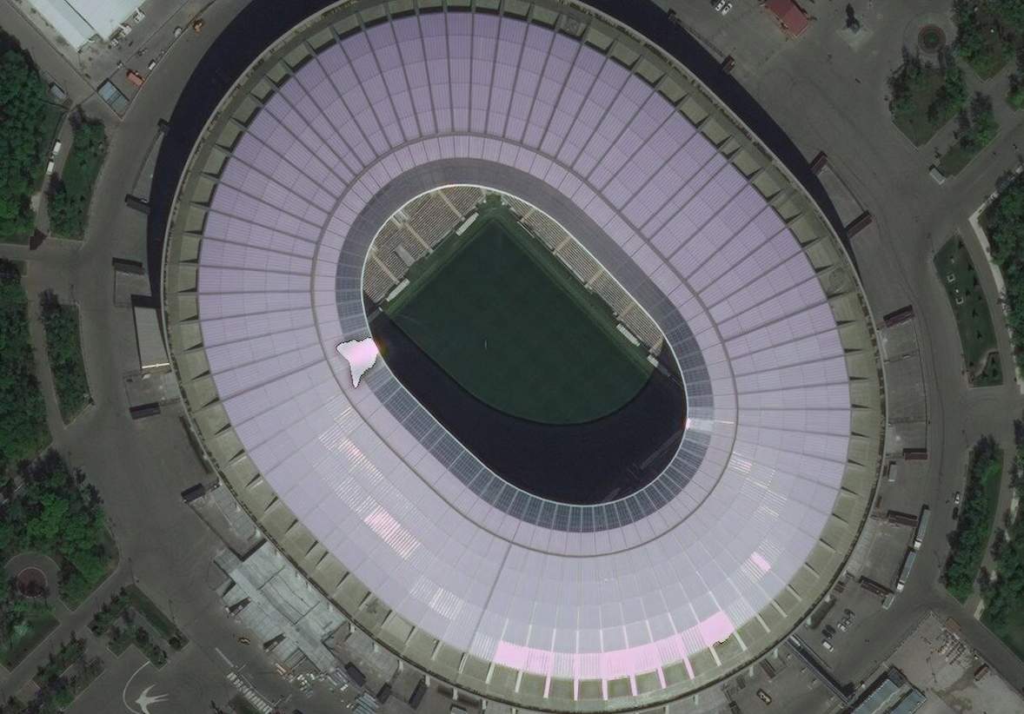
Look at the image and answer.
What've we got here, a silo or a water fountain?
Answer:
water fountain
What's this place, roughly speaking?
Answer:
sports ground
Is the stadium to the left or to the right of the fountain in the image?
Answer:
on the left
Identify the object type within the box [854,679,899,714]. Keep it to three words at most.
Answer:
building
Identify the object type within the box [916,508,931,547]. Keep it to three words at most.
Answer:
vehicle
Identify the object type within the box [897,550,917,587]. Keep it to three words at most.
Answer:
vehicle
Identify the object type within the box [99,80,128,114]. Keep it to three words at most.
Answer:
shed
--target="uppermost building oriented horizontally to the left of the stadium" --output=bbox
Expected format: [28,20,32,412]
[65,0,150,42]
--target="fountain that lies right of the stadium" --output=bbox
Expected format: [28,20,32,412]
[918,25,946,53]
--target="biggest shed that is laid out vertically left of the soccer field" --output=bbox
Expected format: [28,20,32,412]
[135,307,169,369]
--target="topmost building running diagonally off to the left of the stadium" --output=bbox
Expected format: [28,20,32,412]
[25,0,96,50]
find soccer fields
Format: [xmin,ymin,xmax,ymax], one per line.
[369,188,686,505]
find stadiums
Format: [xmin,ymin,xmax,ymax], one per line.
[161,0,889,714]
